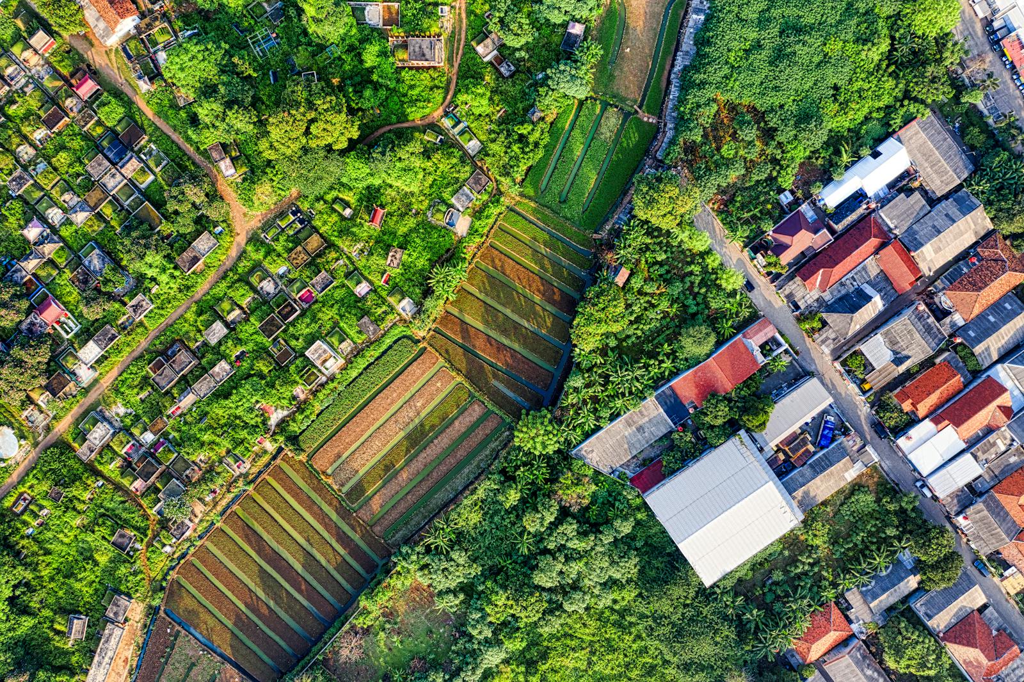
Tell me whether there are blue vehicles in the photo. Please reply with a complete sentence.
Yes, the image includes a blue vehicle.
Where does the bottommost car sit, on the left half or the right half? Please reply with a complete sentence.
The bottommost car sits on the right side.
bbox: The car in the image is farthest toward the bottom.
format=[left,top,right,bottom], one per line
[970,556,992,579]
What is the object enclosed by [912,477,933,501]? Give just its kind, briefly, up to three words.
car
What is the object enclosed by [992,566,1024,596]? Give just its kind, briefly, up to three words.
shed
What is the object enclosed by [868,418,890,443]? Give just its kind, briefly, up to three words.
car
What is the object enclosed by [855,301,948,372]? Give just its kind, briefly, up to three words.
house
